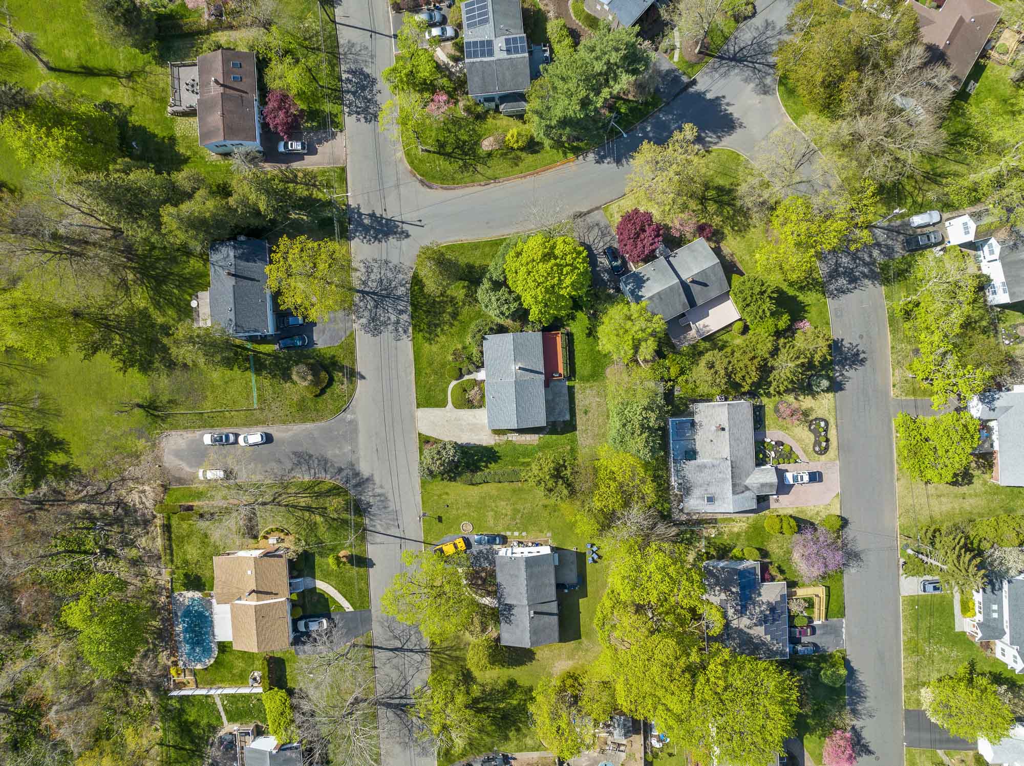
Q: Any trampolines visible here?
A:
No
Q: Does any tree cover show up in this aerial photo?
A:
Yes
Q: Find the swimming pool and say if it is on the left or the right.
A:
left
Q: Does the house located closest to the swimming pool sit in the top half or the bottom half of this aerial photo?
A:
bottom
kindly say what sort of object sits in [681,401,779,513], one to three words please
house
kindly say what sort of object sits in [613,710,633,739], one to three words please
shed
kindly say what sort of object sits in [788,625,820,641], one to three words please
car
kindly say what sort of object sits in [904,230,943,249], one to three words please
vehicle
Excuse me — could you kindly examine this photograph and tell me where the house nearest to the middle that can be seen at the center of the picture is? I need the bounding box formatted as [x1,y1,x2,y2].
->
[474,332,546,430]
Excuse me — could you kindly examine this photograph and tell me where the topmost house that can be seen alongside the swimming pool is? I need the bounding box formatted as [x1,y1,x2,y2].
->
[213,543,303,653]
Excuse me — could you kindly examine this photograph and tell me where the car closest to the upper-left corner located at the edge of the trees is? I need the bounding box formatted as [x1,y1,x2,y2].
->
[277,138,309,155]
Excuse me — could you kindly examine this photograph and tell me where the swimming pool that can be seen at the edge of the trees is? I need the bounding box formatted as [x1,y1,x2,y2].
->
[177,596,214,665]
